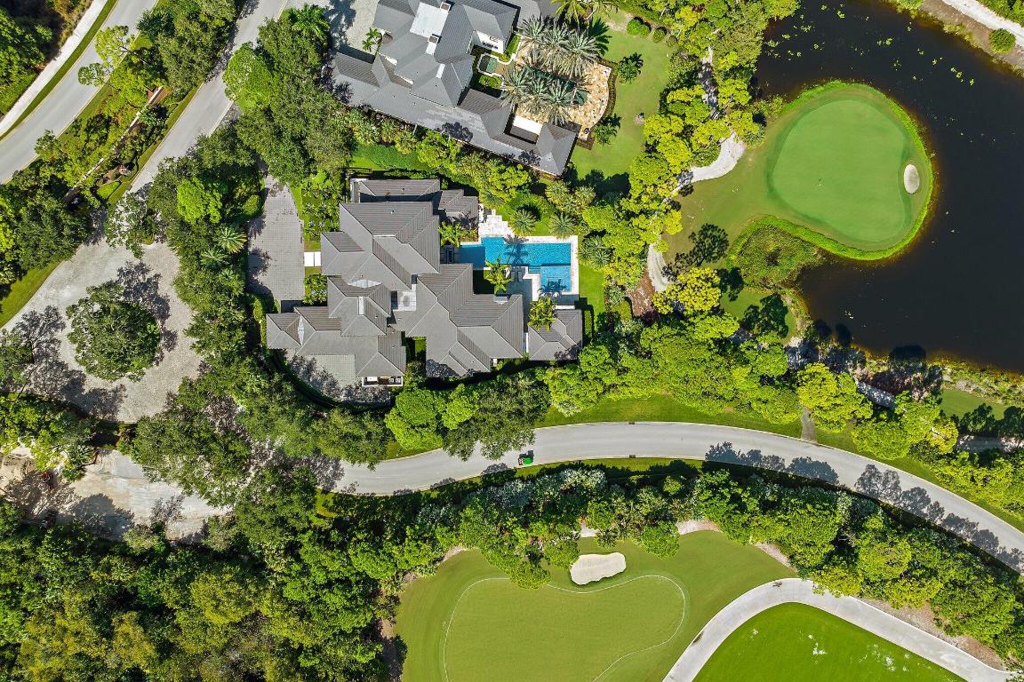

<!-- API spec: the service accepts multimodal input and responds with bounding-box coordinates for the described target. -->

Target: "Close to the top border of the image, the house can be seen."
[322,0,582,176]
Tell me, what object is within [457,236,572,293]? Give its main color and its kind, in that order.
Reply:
blue swimming pool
